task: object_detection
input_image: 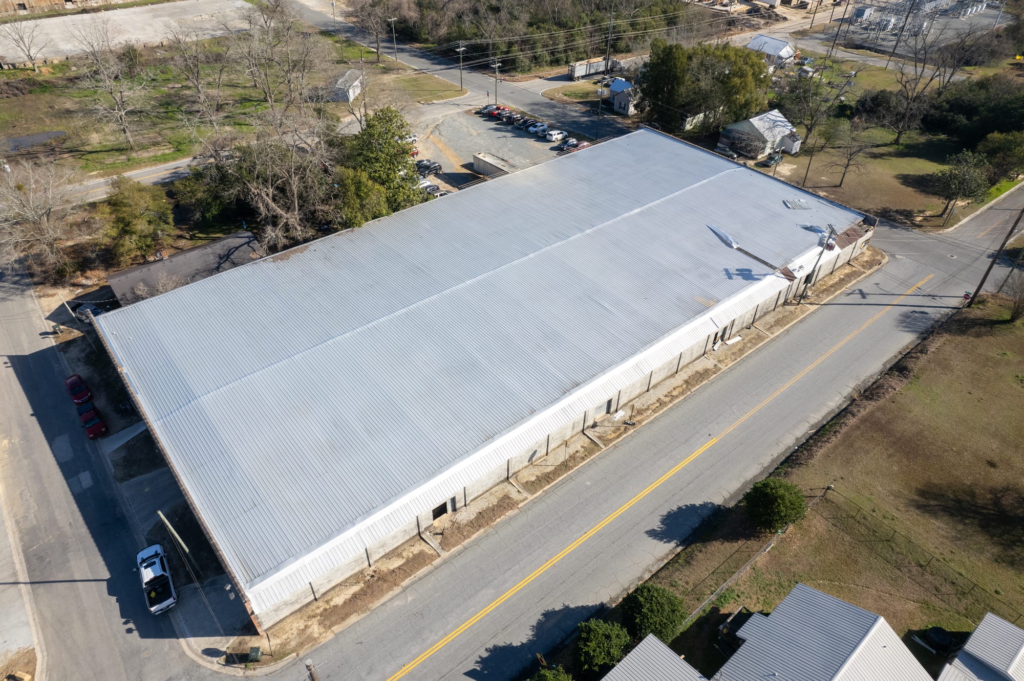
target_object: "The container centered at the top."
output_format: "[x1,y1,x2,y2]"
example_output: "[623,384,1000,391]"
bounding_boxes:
[472,148,523,178]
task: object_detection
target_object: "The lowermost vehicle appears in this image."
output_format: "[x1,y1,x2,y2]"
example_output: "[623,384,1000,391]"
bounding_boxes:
[132,542,181,617]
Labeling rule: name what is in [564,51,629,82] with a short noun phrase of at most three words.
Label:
truck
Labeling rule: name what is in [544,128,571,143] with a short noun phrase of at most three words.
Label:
car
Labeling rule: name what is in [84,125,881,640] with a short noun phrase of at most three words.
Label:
warehouse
